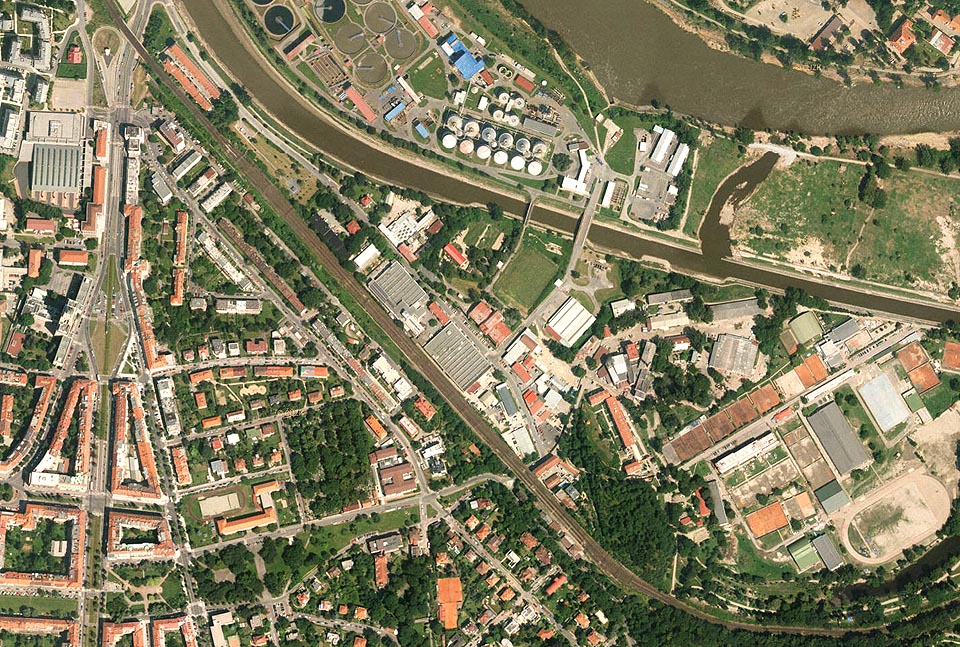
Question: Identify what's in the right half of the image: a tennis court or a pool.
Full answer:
There is a tennis court in the right half of the image.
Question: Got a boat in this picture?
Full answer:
No, no boat is visible in the view.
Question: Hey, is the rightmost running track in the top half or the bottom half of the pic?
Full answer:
You can find the rightmost running track in the bottom half.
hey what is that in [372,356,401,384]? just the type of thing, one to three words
house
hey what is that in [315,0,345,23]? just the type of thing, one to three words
water tank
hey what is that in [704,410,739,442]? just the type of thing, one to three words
tennis court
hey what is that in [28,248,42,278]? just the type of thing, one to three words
building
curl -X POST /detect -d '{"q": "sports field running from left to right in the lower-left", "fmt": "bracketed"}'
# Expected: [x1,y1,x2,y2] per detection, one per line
[199,492,241,516]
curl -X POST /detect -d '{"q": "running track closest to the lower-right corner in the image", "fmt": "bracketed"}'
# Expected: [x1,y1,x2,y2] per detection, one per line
[842,473,950,564]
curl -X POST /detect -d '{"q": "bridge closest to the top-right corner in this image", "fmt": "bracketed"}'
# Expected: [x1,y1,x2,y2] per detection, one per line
[573,174,608,252]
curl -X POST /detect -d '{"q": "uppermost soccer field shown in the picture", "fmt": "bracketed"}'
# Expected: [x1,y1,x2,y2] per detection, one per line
[494,249,557,313]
